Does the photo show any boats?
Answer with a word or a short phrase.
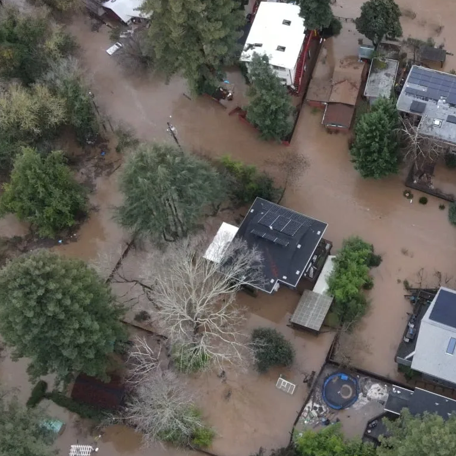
No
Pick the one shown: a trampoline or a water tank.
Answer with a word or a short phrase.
trampoline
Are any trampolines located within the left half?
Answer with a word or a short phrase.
No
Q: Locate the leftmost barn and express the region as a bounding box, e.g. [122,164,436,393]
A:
[70,372,129,415]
